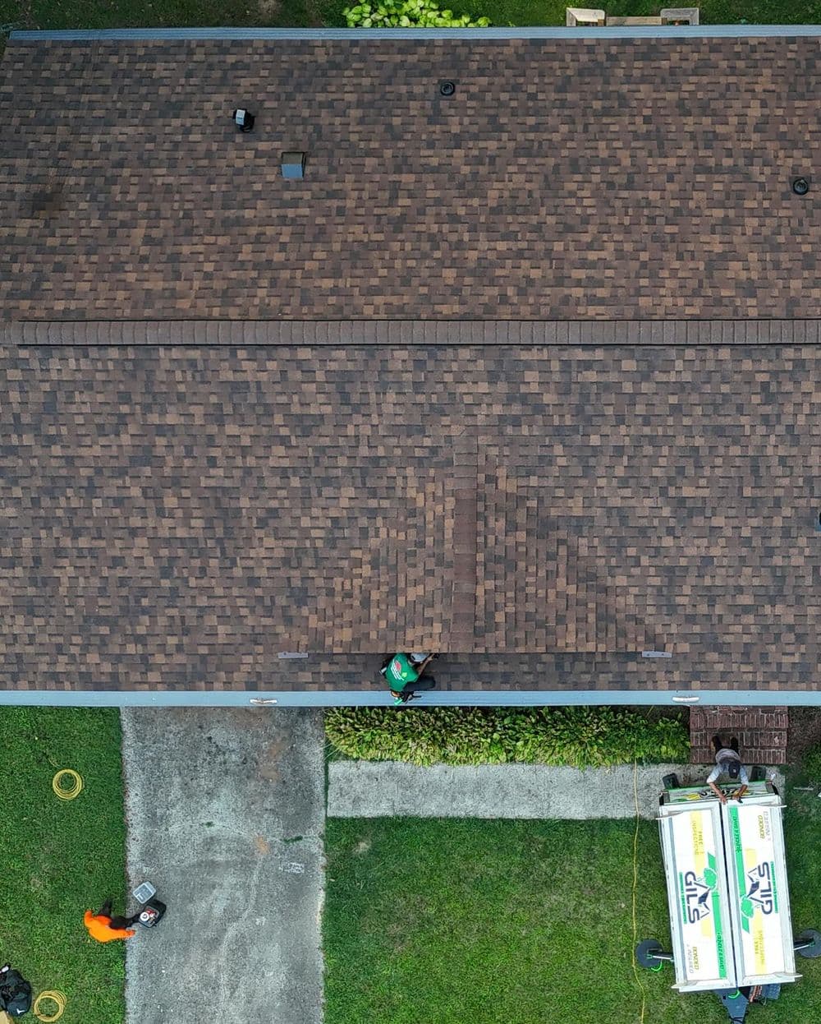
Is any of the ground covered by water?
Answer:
No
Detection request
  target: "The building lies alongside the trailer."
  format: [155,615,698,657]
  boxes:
[0,25,821,706]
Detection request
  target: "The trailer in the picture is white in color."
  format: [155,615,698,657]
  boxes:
[636,765,821,1024]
